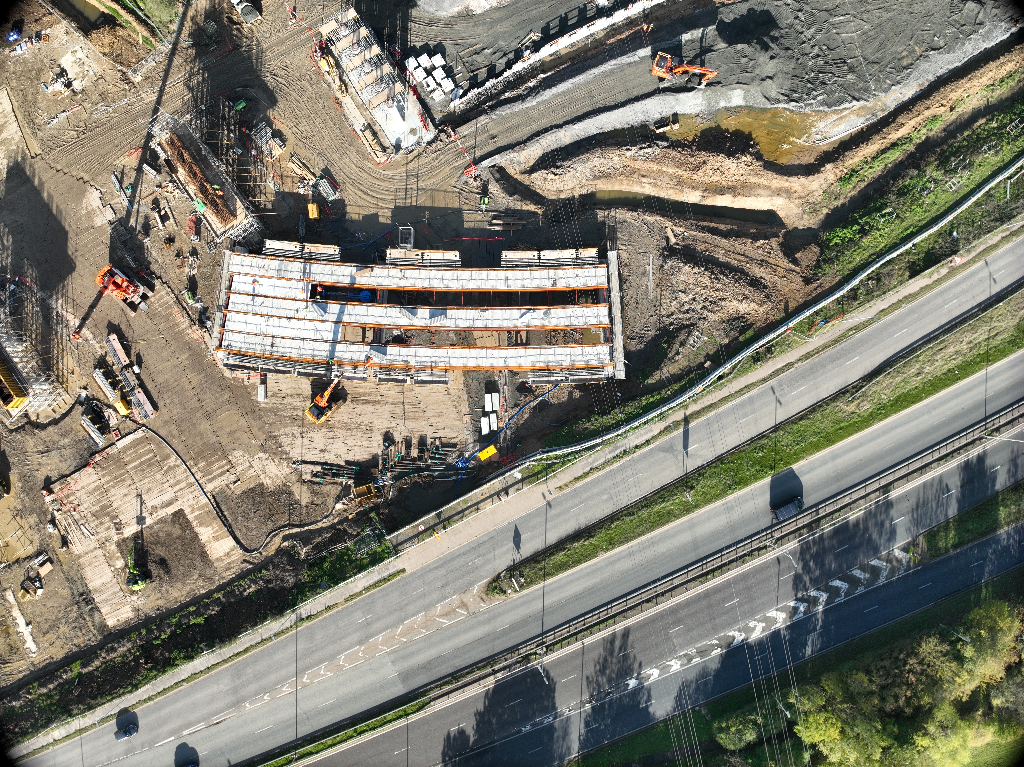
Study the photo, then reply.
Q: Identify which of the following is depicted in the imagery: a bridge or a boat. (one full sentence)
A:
Of the two, only a bridge appears.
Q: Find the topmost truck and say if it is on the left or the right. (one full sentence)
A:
The topmost truck appears in the left half of the scene.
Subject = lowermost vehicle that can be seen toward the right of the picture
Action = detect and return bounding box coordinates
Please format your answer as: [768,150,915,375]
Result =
[768,496,806,521]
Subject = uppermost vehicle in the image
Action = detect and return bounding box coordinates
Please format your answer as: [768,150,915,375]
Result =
[224,0,267,33]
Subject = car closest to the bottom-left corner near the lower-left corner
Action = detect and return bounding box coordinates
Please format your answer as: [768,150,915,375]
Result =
[111,721,143,745]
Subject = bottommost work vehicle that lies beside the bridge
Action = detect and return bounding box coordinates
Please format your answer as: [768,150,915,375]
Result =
[303,370,341,431]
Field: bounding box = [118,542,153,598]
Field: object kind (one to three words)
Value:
work vehicle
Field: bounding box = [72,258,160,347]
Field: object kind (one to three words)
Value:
crane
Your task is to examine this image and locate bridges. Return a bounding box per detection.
[214,249,614,372]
